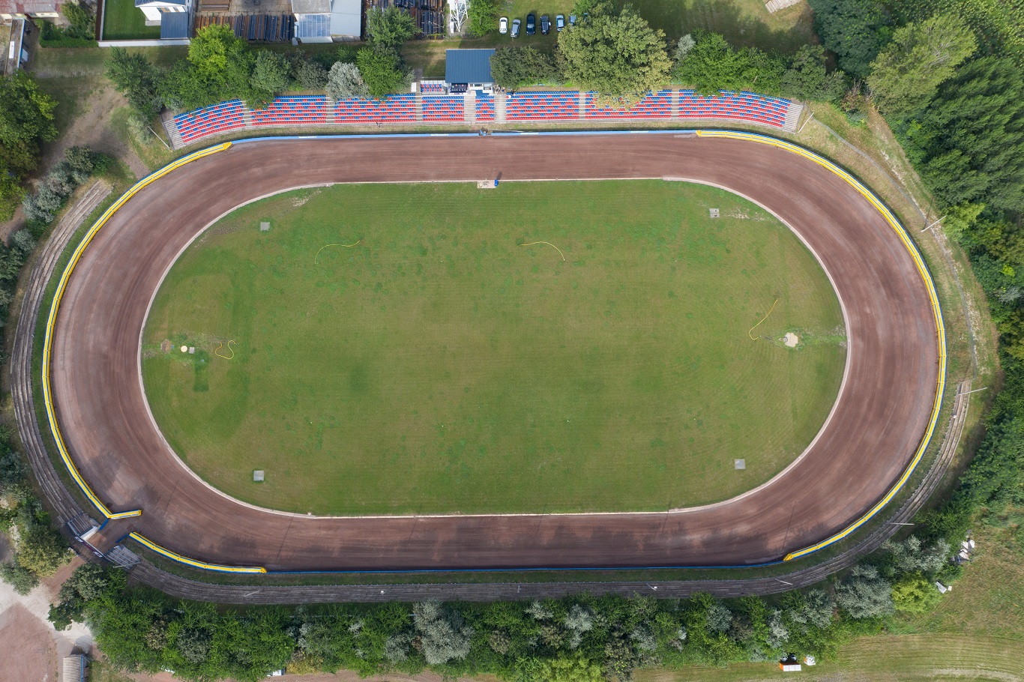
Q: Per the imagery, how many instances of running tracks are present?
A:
1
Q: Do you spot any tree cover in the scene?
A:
Yes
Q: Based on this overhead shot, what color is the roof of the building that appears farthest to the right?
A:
blue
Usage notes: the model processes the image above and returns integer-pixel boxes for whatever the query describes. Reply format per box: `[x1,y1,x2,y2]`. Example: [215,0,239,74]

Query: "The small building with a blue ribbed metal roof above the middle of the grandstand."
[445,48,496,97]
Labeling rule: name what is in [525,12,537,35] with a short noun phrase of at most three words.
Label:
vehicle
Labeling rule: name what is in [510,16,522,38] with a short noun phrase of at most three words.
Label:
vehicle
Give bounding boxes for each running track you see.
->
[51,133,937,574]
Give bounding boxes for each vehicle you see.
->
[498,15,509,34]
[539,14,549,35]
[510,16,522,38]
[568,10,578,30]
[525,12,537,35]
[555,12,566,32]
